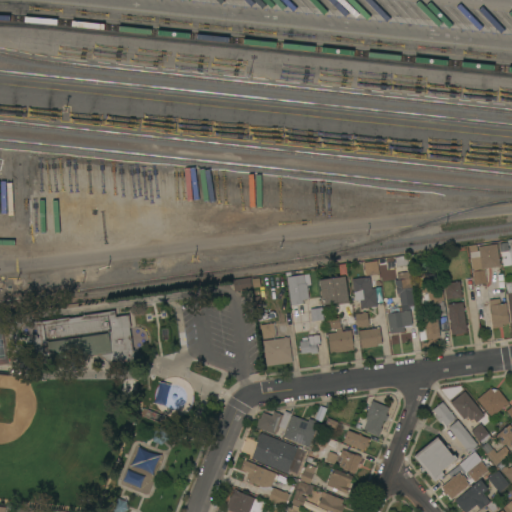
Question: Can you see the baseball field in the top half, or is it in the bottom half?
bottom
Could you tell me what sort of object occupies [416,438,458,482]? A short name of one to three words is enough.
building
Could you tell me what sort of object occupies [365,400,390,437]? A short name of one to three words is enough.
house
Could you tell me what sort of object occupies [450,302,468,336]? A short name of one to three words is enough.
house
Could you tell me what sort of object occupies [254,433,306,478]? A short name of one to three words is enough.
building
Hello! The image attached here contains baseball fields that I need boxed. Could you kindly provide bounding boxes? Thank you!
[0,376,38,444]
